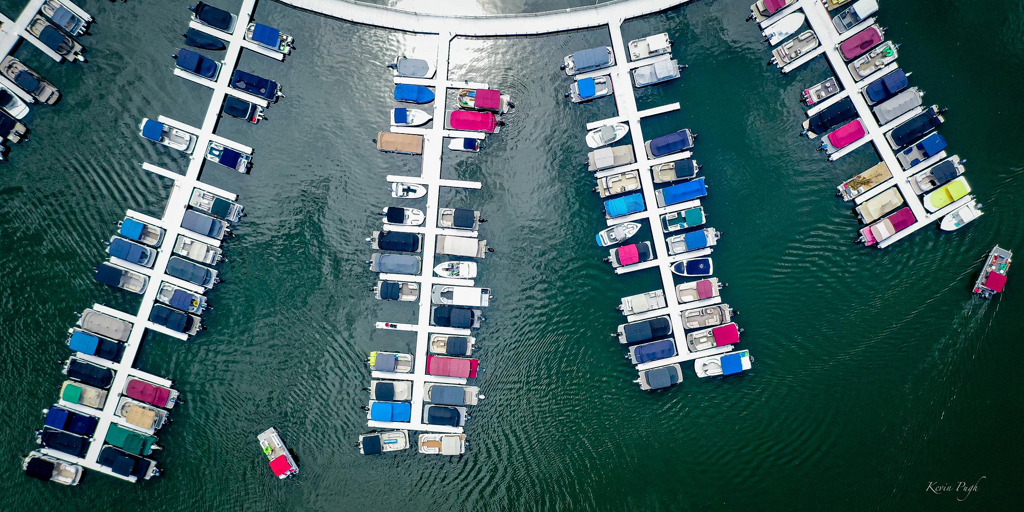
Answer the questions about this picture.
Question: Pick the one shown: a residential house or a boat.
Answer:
boat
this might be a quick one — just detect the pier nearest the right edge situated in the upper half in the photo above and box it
[757,0,974,250]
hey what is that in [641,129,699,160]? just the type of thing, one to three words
boat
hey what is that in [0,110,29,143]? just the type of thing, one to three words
boat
